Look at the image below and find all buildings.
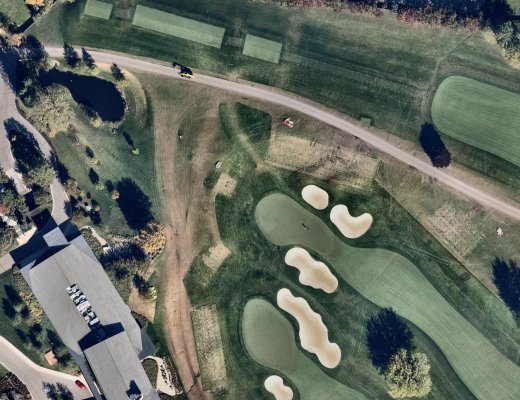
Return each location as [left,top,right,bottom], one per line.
[20,227,162,400]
